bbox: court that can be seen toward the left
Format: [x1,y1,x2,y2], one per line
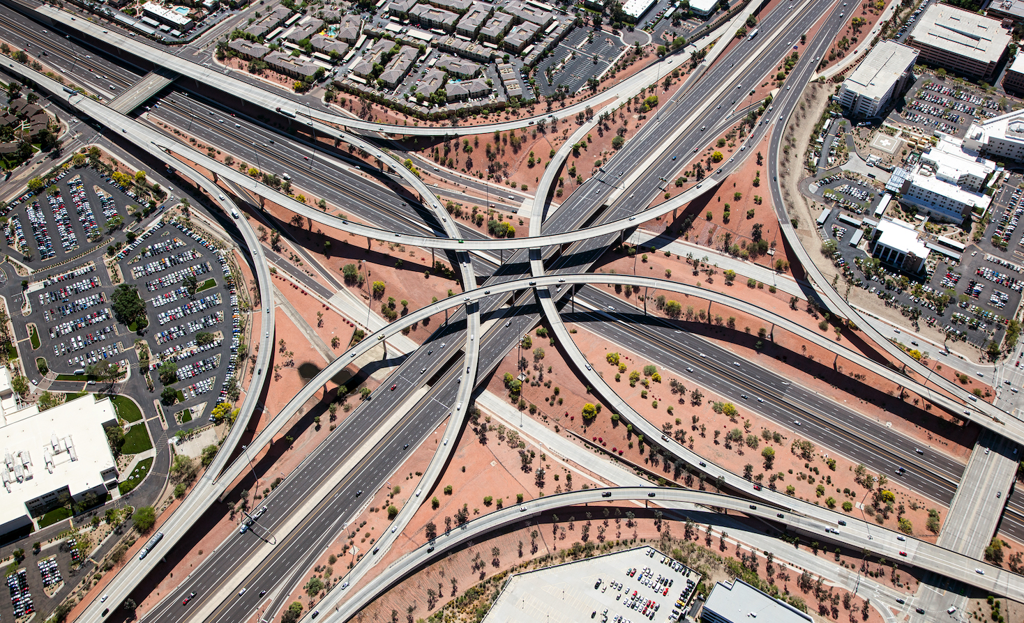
[173,428,219,461]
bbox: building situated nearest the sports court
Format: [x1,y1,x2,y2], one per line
[0,394,123,536]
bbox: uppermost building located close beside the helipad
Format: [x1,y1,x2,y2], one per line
[837,38,921,119]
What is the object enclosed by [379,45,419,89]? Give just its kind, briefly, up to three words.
building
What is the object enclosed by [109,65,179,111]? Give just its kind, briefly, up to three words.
bridge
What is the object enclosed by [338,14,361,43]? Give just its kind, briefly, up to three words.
building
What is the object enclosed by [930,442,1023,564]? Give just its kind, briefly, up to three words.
bridge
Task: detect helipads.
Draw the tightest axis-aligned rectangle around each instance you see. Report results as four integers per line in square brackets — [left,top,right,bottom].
[869,132,902,155]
